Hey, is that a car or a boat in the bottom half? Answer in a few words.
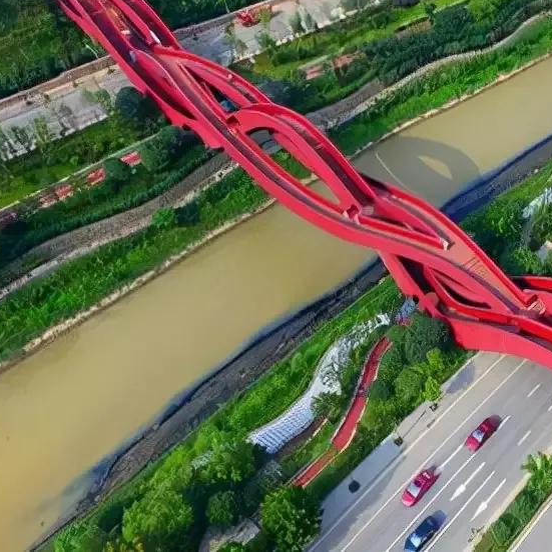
car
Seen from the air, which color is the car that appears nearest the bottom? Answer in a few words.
blue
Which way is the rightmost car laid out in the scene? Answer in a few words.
diagonally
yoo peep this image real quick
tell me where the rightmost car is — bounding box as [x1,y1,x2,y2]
[463,414,502,454]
